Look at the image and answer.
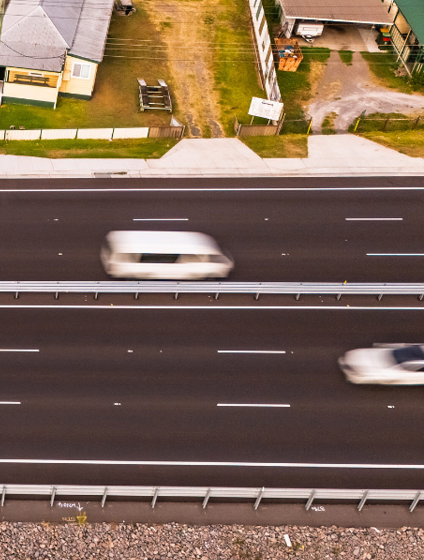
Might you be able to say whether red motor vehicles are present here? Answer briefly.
No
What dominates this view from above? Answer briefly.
paved ground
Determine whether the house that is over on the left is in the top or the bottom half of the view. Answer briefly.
top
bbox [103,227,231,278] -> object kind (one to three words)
van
